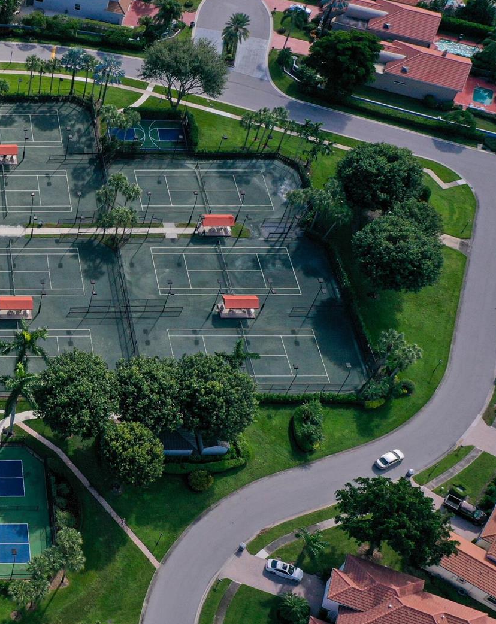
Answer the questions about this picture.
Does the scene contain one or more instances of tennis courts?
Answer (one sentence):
Yes, the photo shows a tennis court.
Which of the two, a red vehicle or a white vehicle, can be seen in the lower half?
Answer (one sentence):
The one visible in the lower half is a white vehicle.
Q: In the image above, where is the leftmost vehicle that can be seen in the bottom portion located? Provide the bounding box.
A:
[266,557,304,582]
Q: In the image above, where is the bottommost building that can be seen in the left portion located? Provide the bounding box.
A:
[161,418,229,456]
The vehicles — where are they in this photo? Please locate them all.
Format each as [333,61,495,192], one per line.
[442,493,488,523]
[375,448,406,469]
[289,0,313,14]
[266,557,304,582]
